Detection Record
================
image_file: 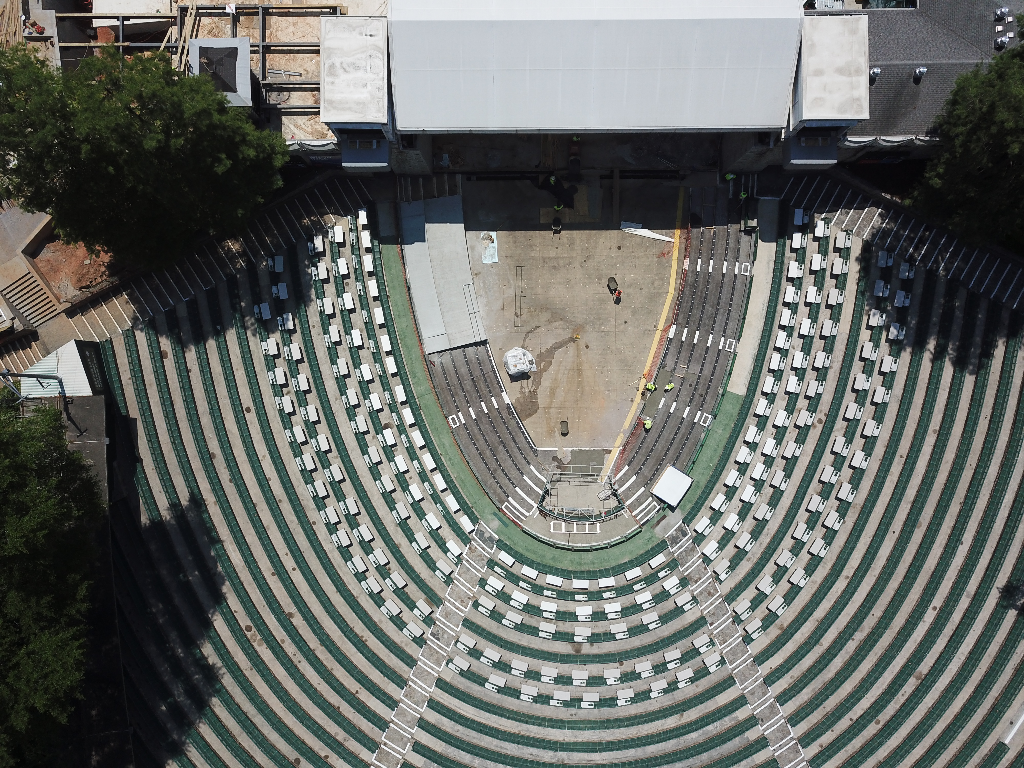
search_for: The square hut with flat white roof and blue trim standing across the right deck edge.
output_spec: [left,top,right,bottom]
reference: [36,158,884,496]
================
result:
[646,463,694,507]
